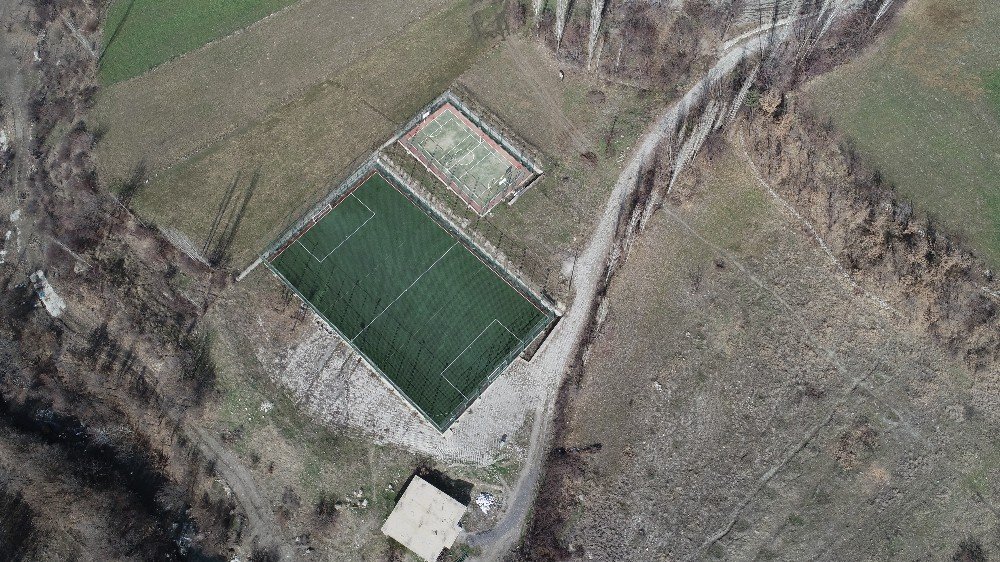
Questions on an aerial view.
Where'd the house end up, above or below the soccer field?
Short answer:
below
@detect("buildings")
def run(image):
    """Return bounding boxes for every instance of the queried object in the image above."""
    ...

[383,476,467,562]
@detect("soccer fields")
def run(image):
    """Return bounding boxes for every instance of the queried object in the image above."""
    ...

[268,167,556,434]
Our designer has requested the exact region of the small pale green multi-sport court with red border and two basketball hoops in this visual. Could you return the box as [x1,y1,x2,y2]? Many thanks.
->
[398,102,533,217]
